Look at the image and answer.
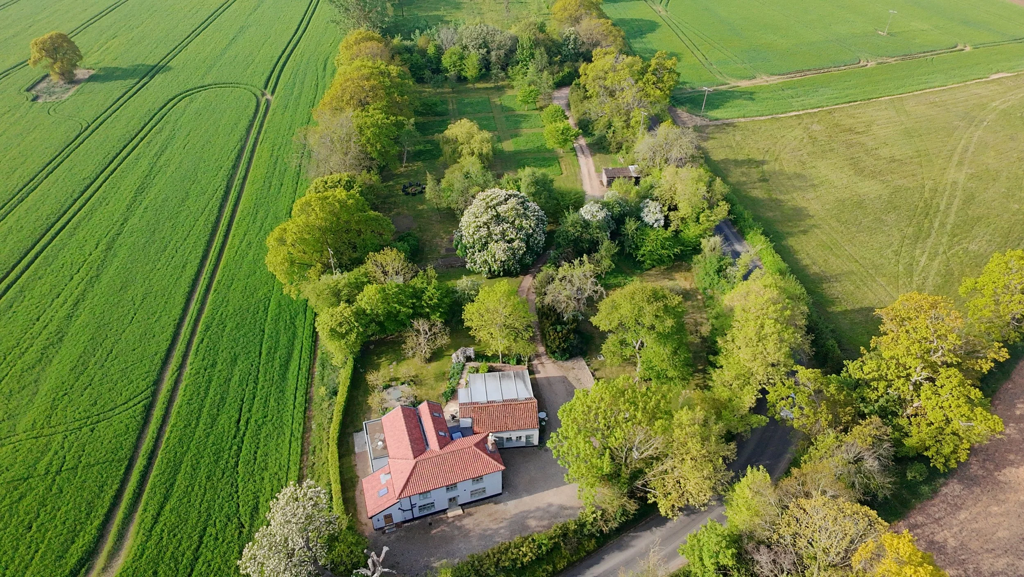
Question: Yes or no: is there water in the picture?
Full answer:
No, water can't be seen anywhere here.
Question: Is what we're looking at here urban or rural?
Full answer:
The area shown here is rural.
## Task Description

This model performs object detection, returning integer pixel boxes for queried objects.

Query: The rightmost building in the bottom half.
[457,369,540,448]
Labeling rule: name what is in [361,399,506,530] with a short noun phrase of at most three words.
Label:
house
